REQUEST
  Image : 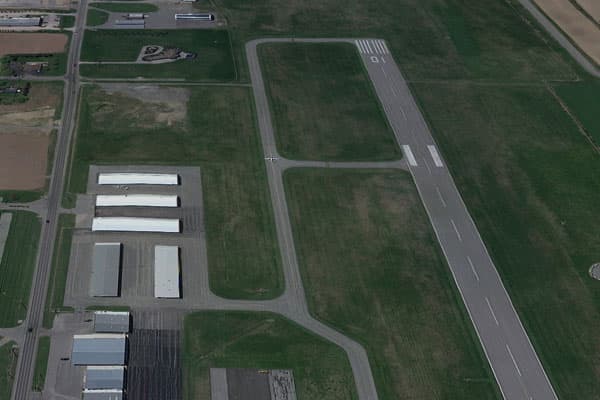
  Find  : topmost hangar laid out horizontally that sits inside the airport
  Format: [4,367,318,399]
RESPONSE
[98,173,178,186]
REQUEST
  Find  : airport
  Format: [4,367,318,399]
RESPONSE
[64,38,558,400]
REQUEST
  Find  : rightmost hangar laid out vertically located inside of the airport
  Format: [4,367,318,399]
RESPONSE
[155,246,180,299]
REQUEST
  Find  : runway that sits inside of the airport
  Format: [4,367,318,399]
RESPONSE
[355,40,558,400]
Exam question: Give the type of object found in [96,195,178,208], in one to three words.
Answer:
hangar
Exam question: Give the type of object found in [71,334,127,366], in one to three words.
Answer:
hangar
